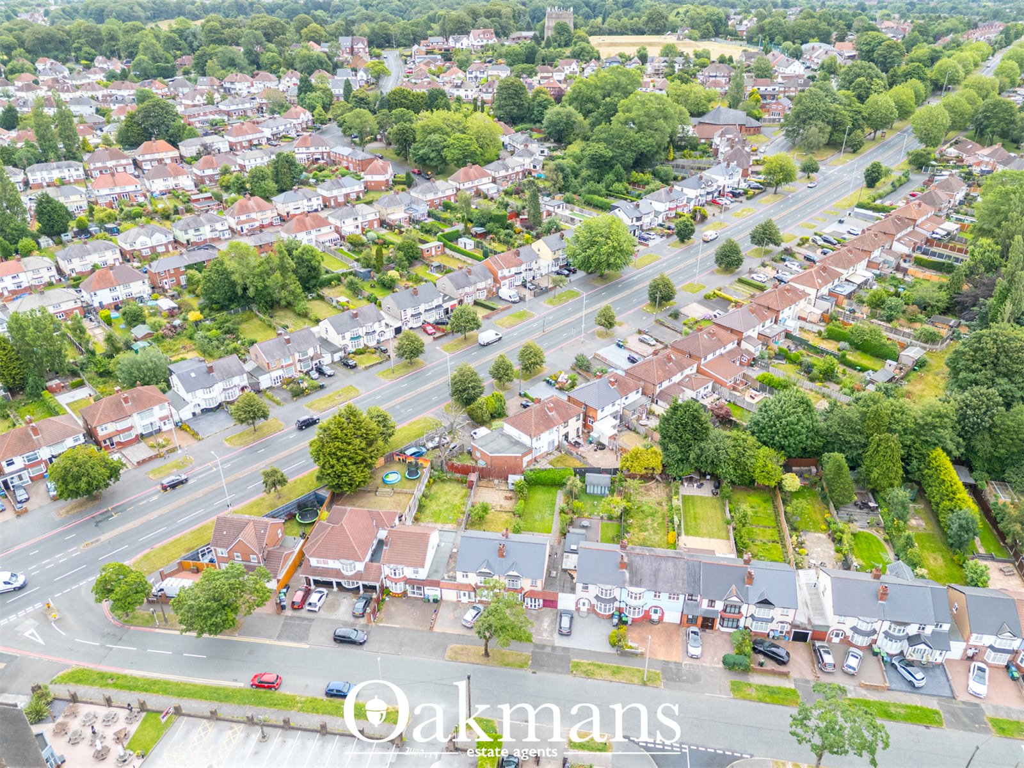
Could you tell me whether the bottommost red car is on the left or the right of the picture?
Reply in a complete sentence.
The bottommost red car is on the left side of the image.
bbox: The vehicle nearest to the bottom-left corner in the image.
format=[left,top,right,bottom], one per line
[0,573,27,594]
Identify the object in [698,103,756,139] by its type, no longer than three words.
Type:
building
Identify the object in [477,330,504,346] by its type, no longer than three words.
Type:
vehicle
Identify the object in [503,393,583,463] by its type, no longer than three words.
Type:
house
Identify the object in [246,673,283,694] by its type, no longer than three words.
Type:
car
